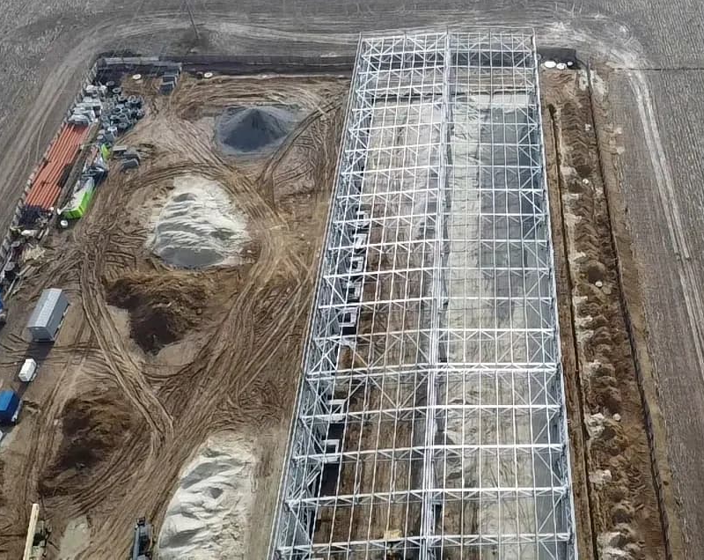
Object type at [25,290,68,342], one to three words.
building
